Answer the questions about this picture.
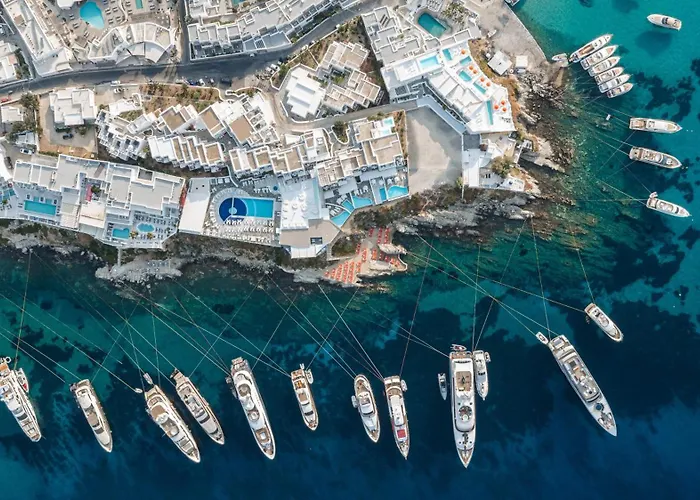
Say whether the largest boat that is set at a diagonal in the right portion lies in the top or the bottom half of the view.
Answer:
bottom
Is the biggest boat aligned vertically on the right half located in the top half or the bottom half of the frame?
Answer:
bottom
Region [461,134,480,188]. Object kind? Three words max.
house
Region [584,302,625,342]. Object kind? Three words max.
boat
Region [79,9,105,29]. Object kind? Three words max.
swimming pool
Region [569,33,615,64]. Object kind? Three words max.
boat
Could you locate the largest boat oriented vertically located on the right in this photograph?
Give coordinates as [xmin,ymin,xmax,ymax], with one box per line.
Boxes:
[447,350,476,471]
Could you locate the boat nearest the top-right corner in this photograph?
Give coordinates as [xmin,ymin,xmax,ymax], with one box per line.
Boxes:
[646,12,684,30]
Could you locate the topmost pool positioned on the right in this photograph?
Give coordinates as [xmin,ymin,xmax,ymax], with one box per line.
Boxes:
[417,12,447,38]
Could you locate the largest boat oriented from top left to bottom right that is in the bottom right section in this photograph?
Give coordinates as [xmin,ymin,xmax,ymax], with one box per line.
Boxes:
[547,331,619,438]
